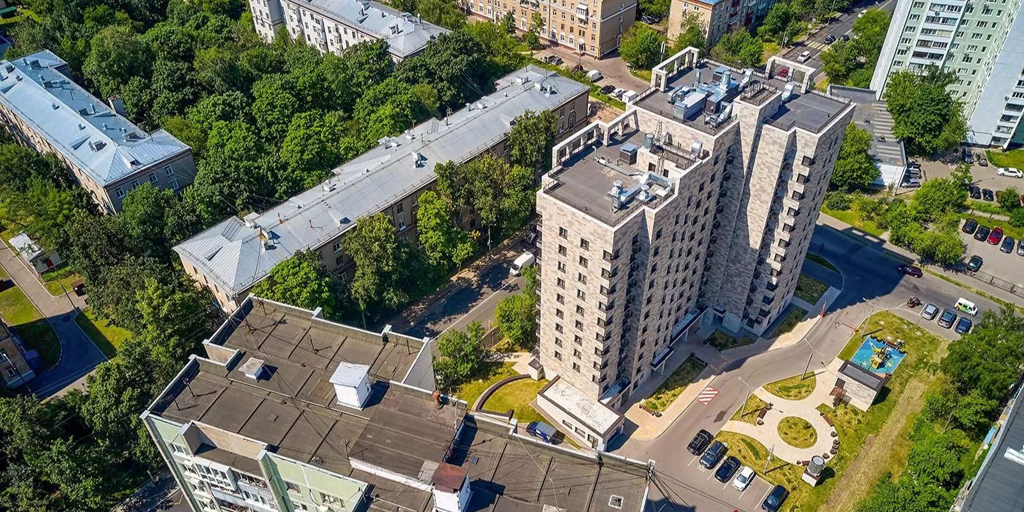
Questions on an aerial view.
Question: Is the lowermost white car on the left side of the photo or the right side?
right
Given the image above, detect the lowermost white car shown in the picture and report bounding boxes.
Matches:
[733,465,757,490]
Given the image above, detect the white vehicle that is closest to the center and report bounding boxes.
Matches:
[510,247,533,274]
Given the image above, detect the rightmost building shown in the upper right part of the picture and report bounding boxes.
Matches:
[870,0,1024,148]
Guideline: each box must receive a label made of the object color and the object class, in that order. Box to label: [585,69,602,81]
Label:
white vehicle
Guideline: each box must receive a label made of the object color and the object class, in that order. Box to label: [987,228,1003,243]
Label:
red car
